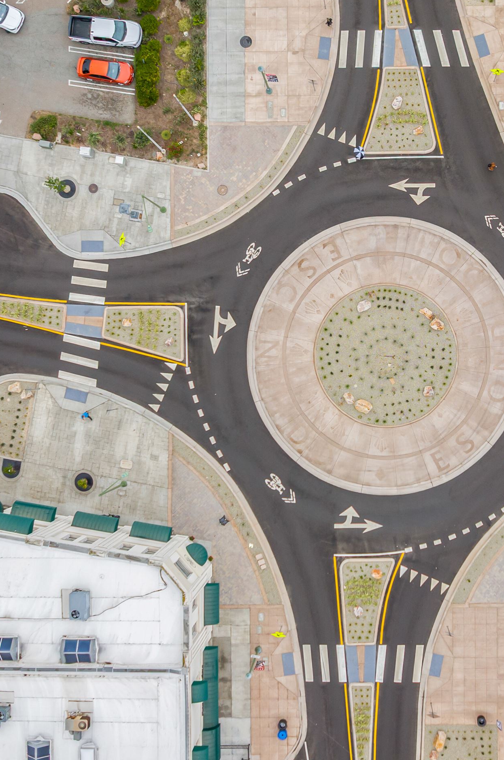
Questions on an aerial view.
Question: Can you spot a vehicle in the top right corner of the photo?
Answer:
No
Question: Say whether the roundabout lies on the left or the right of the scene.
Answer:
right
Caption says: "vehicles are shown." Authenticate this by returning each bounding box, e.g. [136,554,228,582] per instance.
[66,14,144,49]
[75,57,137,87]
[0,0,27,36]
